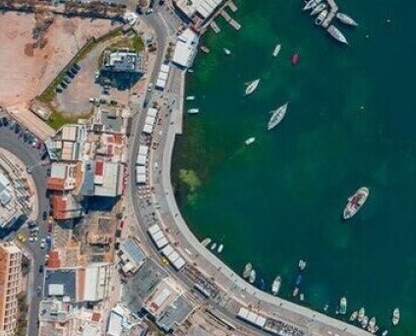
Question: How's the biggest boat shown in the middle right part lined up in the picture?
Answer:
diagonally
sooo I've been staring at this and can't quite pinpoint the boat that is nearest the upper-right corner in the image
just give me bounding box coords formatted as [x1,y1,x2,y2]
[335,13,356,25]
